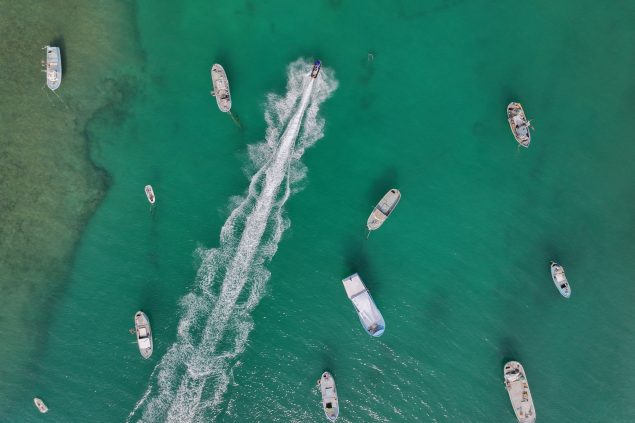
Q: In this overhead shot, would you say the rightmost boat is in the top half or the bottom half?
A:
bottom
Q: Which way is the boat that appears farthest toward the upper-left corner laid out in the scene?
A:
vertically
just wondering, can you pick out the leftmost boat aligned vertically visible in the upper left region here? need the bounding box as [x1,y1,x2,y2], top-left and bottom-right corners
[42,46,68,110]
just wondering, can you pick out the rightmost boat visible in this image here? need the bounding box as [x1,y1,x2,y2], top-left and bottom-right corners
[549,260,572,299]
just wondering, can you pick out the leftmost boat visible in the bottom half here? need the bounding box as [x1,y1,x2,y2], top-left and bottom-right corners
[35,398,48,413]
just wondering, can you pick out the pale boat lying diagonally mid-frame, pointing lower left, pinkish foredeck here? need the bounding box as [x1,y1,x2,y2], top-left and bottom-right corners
[365,187,397,243]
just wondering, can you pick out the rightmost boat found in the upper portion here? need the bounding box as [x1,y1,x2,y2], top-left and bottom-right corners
[507,101,535,153]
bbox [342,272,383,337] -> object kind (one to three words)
boat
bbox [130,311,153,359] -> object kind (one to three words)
boat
